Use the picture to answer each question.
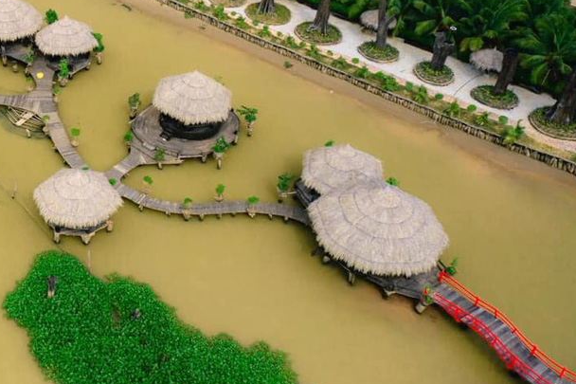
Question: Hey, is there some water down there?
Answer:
Yes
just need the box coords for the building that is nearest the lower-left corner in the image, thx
[34,167,123,253]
